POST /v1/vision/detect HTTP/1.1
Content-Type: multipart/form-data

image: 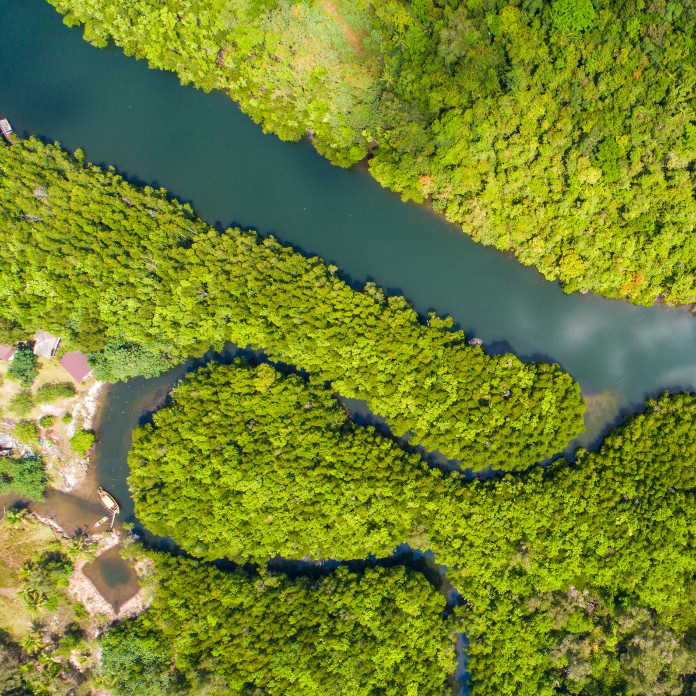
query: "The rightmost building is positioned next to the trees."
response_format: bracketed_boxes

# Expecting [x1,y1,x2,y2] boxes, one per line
[59,356,90,385]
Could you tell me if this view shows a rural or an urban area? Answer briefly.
rural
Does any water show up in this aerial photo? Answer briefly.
Yes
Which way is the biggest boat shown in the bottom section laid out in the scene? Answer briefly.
on a diagonal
